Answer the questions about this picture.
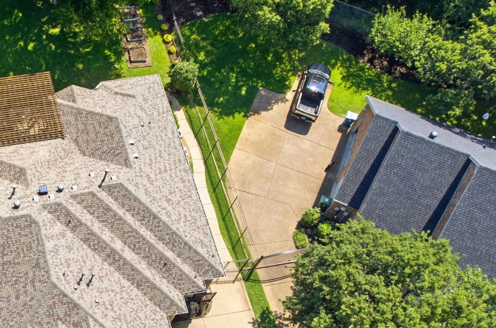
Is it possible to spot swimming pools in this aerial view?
No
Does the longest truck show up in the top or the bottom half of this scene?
top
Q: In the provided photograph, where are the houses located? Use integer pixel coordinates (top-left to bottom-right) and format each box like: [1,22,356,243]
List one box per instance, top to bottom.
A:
[0,72,225,328]
[323,95,496,322]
